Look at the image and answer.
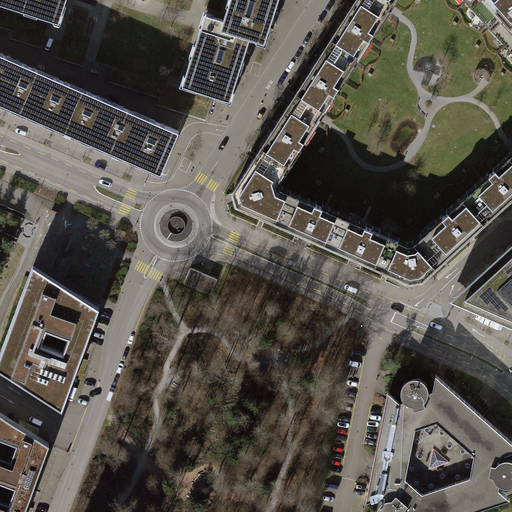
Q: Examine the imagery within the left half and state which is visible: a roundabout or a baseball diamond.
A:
roundabout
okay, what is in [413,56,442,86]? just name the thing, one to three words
playground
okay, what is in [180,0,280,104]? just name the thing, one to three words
building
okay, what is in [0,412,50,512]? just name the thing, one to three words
building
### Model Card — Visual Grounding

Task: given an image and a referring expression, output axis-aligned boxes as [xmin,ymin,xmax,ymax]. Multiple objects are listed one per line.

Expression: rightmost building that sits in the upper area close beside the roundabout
[232,0,512,286]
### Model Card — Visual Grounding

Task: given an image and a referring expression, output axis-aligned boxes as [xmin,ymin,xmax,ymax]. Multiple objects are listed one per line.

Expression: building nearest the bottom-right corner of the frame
[363,371,512,512]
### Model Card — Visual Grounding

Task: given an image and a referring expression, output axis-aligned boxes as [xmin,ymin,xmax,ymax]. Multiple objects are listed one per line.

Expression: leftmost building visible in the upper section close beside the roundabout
[0,50,179,178]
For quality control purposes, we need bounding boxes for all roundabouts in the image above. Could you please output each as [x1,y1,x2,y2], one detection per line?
[140,189,212,260]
